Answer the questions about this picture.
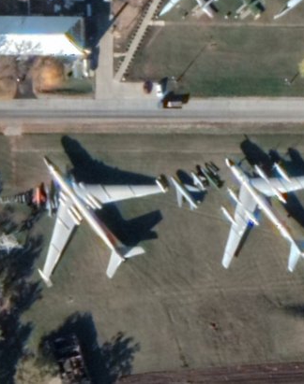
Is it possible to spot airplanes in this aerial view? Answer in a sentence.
Yes, looking at the shot, I can spot an airplane.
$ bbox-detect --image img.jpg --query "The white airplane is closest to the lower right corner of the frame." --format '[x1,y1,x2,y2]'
[214,158,304,270]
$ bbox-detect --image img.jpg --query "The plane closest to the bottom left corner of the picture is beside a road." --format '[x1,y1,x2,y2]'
[37,157,166,283]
